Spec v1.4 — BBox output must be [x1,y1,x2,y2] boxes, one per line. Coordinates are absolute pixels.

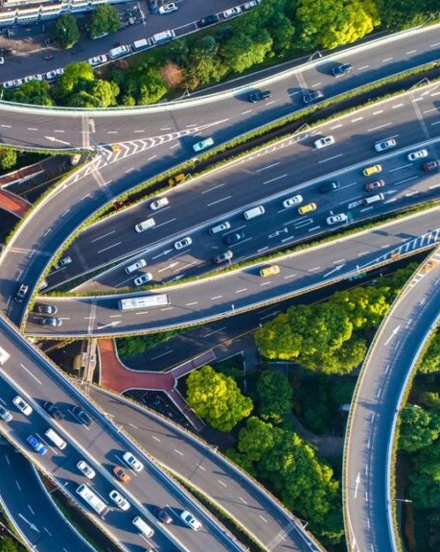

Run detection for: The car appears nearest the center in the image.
[213,251,232,263]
